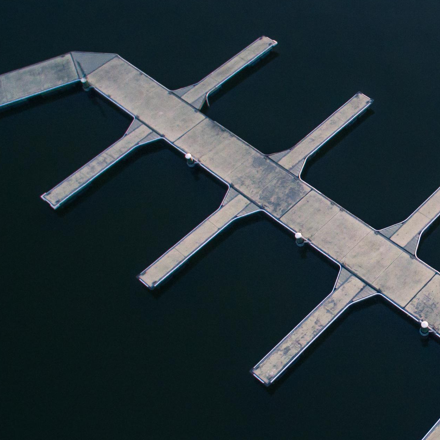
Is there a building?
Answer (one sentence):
No, I can see no building in this picture.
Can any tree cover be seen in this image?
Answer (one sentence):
No, tree cover can't be seen anywhere here.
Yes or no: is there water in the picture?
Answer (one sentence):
Yes, water can be seen from above here.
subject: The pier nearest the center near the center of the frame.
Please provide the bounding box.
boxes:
[138,184,265,292]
